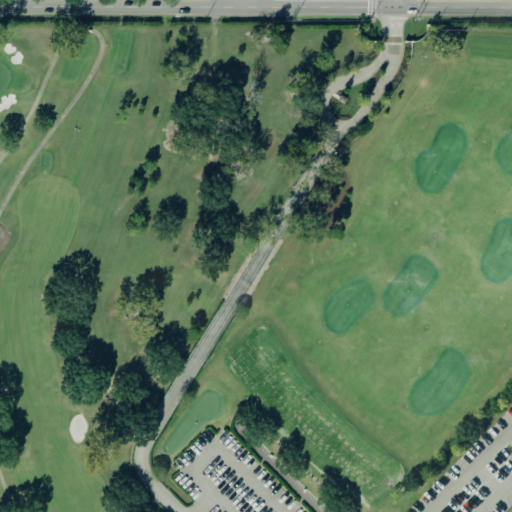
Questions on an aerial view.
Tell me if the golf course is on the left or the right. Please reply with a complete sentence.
You can find the golf course on the left side of the picture.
